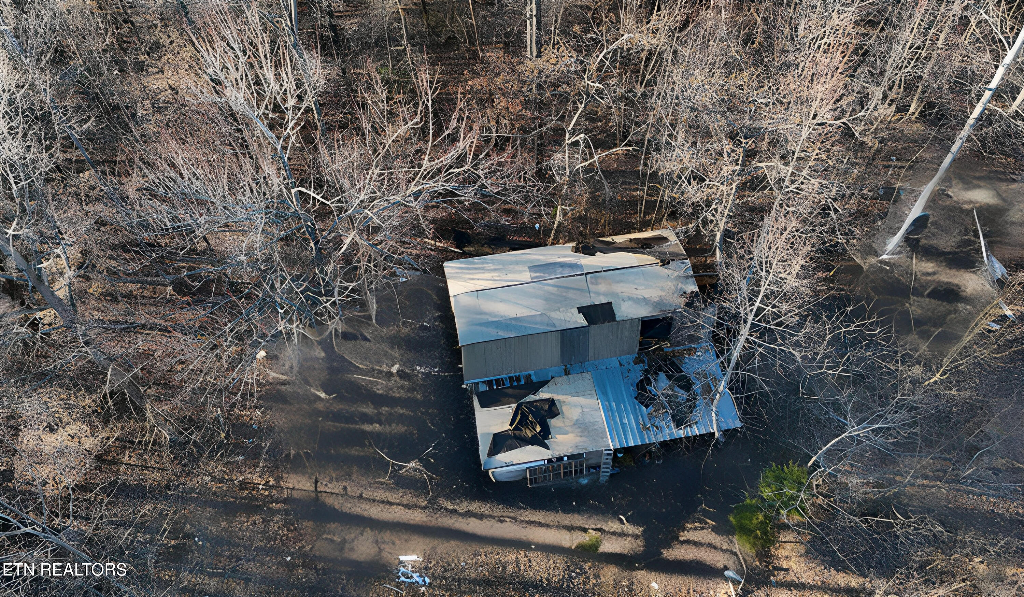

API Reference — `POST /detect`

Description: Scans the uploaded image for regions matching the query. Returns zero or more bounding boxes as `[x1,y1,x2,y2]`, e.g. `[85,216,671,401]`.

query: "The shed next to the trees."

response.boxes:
[444,228,742,489]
